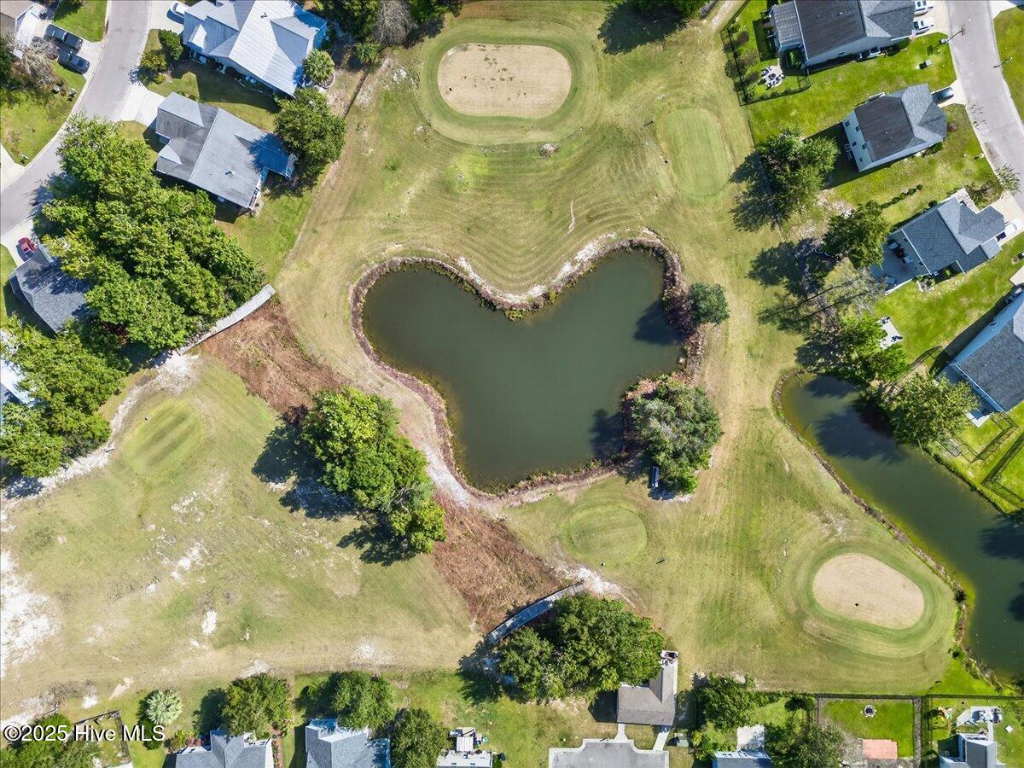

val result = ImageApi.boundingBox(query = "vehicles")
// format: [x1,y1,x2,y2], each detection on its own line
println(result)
[920,84,959,106]
[57,49,94,76]
[996,217,1024,243]
[43,23,87,55]
[164,0,192,22]
[14,231,41,260]
[912,13,939,34]
[909,0,938,16]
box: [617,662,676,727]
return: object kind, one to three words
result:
building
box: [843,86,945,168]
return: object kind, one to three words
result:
house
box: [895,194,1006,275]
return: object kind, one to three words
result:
house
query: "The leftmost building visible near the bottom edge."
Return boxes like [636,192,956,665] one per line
[174,724,270,768]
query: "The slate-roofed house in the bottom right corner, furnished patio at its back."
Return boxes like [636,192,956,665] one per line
[930,733,1008,768]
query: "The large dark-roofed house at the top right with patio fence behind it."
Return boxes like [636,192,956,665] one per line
[782,0,914,66]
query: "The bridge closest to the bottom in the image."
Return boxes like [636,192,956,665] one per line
[486,580,589,645]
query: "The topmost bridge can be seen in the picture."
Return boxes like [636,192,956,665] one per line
[180,283,275,356]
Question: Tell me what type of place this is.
golf course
